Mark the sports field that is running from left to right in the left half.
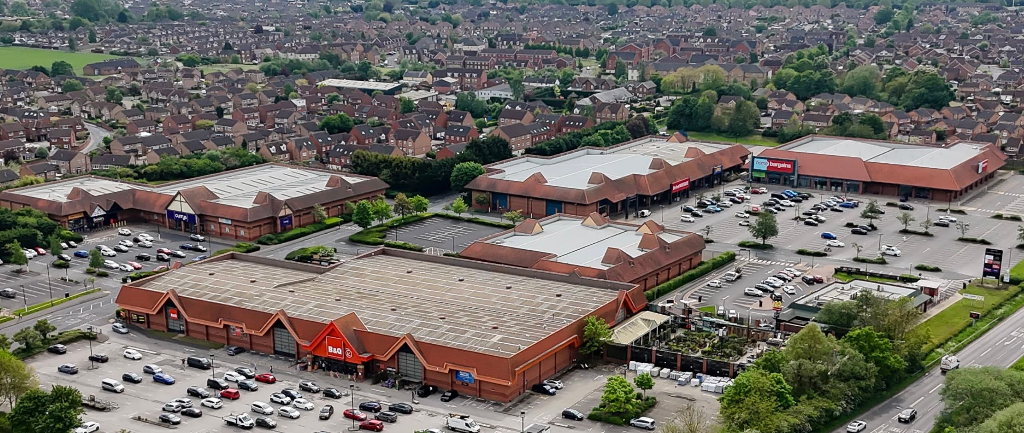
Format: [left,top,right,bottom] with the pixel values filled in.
[0,47,138,70]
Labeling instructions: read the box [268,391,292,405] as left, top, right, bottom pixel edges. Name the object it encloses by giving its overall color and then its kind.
white car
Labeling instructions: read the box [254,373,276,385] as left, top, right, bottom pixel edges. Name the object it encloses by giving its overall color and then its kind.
red vehicle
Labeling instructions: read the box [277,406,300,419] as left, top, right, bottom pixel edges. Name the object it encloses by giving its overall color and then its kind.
white vehicle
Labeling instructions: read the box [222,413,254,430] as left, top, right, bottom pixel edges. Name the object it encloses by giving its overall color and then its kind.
white vehicle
